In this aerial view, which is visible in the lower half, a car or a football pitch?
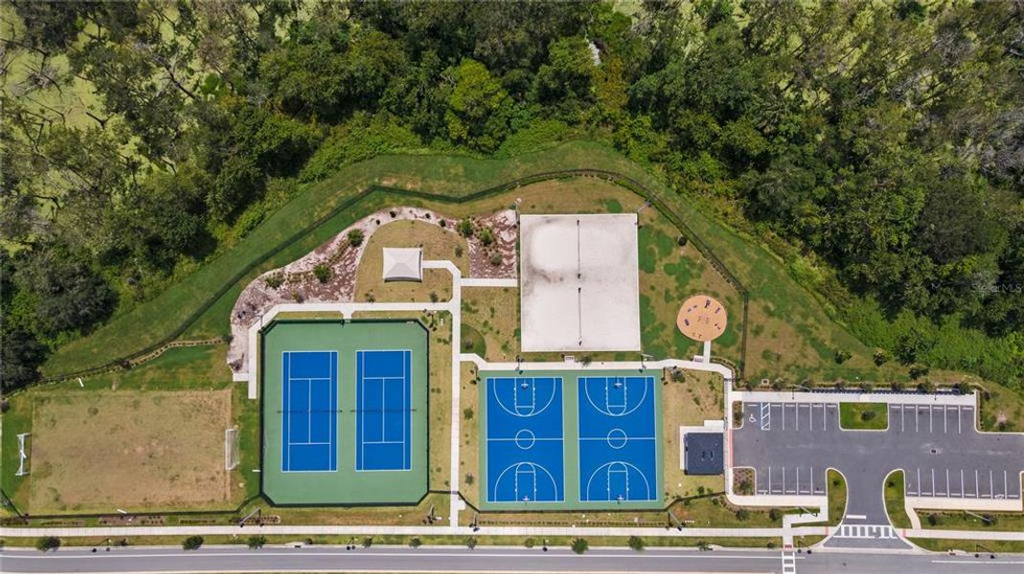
football pitch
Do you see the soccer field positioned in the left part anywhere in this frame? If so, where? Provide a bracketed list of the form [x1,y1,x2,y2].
[30,388,231,512]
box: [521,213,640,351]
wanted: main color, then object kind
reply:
white sports court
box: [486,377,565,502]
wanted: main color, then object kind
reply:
blue basketball court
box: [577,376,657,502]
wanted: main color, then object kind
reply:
blue basketball court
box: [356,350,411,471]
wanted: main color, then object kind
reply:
blue tennis court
